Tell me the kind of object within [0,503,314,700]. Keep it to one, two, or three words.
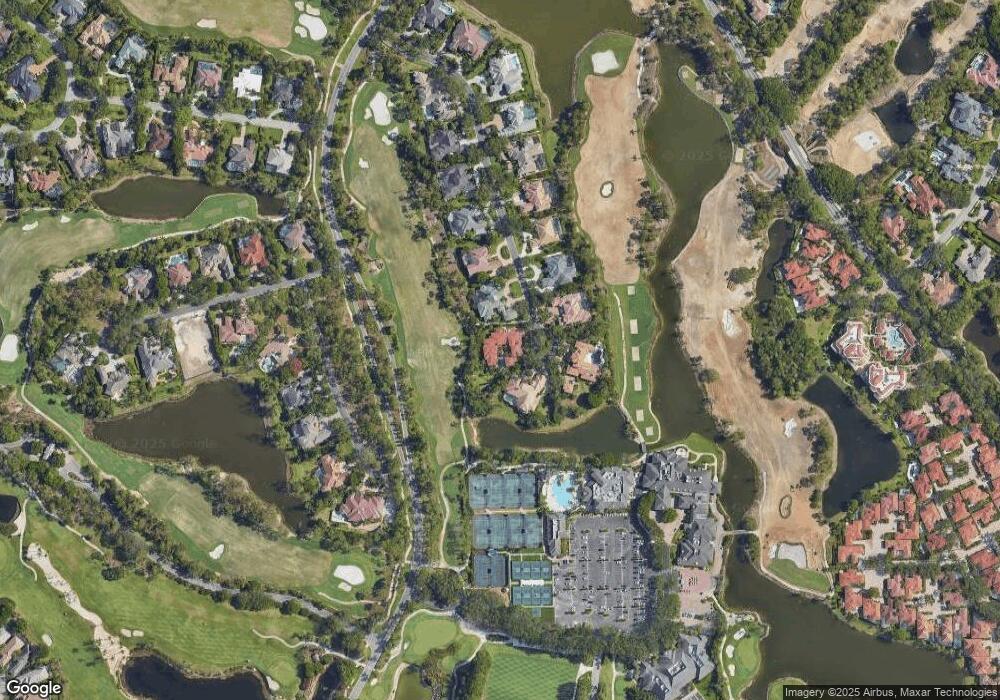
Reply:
golf course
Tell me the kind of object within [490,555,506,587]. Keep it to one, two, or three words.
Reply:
tennis court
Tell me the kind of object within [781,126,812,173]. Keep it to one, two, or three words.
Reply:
bridge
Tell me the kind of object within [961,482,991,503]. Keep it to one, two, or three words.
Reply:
house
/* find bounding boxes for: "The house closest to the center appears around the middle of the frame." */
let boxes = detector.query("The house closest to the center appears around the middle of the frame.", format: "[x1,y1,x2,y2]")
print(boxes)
[479,323,528,369]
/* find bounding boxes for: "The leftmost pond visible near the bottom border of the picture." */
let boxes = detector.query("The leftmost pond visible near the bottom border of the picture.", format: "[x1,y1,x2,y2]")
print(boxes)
[123,655,267,700]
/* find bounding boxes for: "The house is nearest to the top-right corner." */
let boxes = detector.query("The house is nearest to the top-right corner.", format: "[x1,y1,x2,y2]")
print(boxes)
[966,51,1000,90]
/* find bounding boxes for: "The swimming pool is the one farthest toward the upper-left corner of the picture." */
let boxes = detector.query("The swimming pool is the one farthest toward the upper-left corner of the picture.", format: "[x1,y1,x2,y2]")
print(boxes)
[104,15,122,35]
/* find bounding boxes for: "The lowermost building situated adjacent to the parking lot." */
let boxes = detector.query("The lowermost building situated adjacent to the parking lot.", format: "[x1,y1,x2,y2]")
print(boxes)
[640,637,721,700]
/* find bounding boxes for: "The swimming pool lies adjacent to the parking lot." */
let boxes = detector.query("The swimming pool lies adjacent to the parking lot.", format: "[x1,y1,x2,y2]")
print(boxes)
[553,473,574,511]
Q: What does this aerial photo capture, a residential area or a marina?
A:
residential area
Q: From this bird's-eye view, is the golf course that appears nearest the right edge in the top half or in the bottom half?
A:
top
